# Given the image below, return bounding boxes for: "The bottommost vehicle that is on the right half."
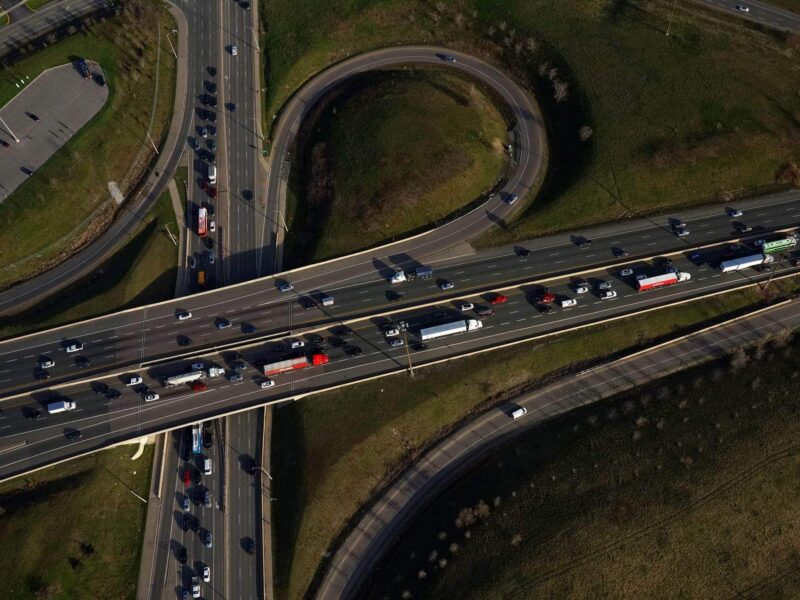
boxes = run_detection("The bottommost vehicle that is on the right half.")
[509,406,527,419]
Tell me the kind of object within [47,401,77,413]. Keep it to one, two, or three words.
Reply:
vehicle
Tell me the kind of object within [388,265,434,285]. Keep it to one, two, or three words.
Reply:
vehicle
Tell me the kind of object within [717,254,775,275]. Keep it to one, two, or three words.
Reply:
truck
